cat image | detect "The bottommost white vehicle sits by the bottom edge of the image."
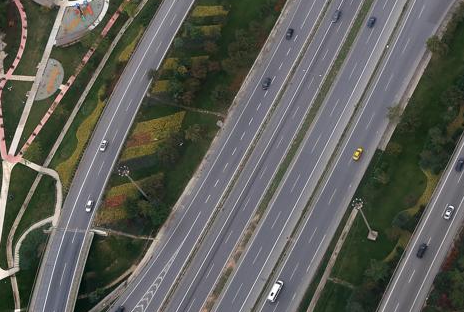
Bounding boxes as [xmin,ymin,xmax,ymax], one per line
[267,280,283,301]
